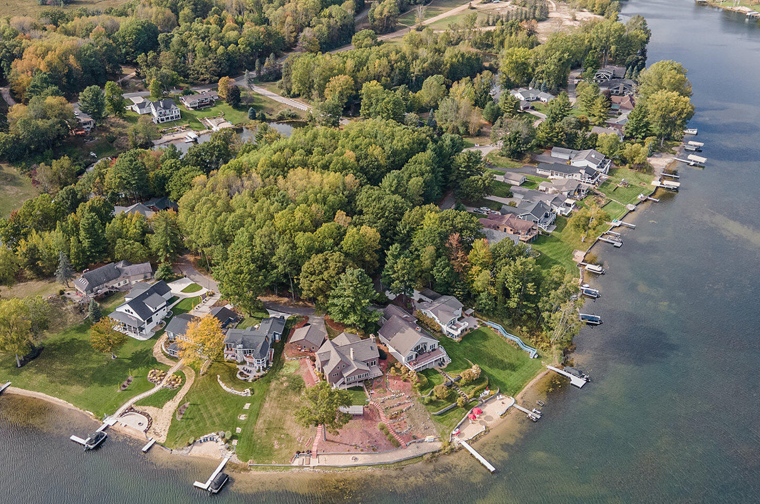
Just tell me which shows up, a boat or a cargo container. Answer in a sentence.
I can see a boat in this picture.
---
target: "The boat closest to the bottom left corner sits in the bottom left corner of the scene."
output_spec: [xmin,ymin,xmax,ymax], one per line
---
[85,431,108,450]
